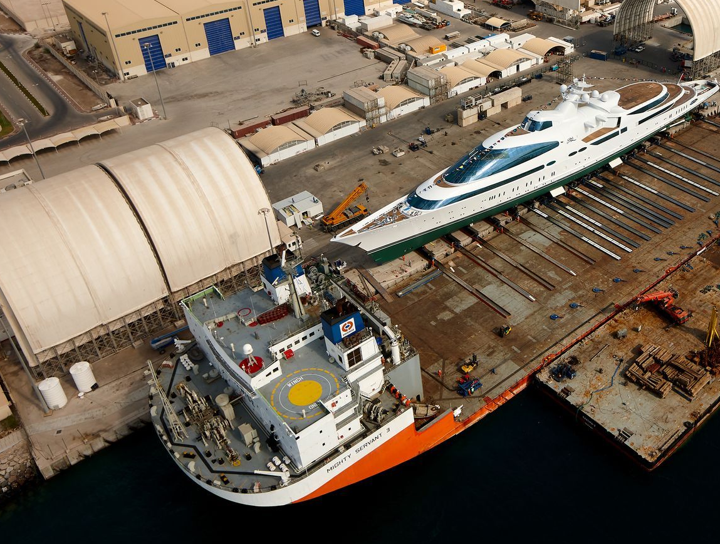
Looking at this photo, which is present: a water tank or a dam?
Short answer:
water tank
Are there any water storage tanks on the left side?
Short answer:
Yes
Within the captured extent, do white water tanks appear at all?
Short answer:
Yes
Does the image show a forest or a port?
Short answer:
port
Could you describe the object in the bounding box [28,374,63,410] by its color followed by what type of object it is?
white water tank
